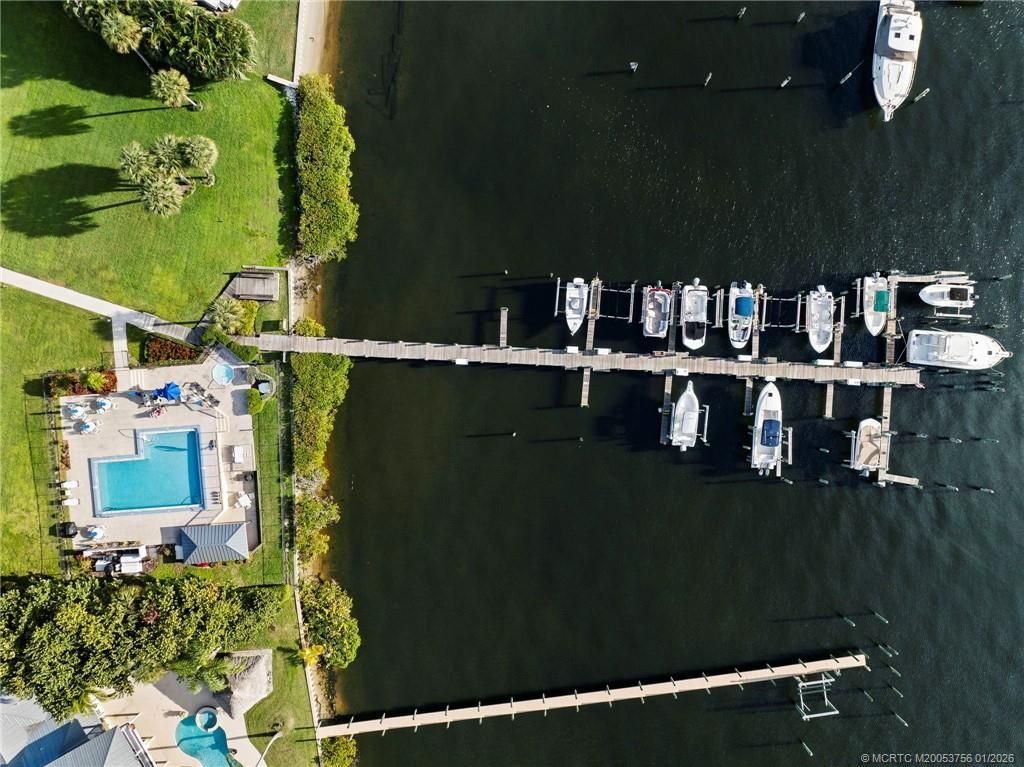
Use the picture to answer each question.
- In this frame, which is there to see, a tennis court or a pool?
pool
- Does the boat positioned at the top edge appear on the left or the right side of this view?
right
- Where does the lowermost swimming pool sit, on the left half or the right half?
left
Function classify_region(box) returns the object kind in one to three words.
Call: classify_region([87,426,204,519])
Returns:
swimming pool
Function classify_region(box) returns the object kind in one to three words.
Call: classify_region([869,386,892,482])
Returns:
pier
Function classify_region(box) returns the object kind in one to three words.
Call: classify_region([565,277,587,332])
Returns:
boat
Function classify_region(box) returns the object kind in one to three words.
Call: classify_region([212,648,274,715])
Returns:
shed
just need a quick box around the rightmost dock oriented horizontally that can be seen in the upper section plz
[885,269,970,286]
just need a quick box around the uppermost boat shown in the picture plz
[869,0,926,122]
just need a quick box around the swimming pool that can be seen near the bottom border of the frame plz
[176,708,231,767]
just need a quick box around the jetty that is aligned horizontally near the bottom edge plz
[317,648,868,741]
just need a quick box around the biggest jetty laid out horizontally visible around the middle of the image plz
[262,333,920,389]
